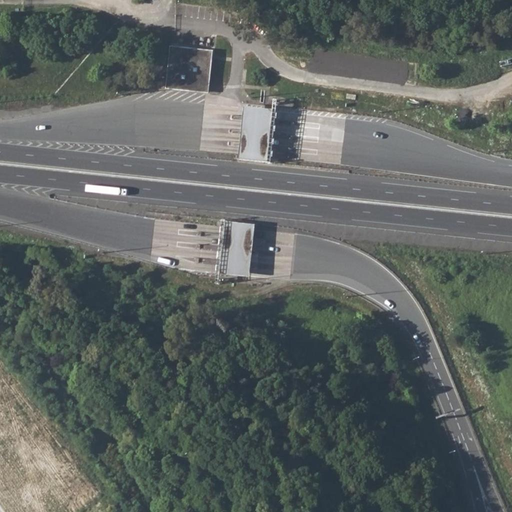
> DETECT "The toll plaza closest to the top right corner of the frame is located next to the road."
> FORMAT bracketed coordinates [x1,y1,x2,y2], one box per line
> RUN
[200,94,346,166]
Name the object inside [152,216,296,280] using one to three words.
toll station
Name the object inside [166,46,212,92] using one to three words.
building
